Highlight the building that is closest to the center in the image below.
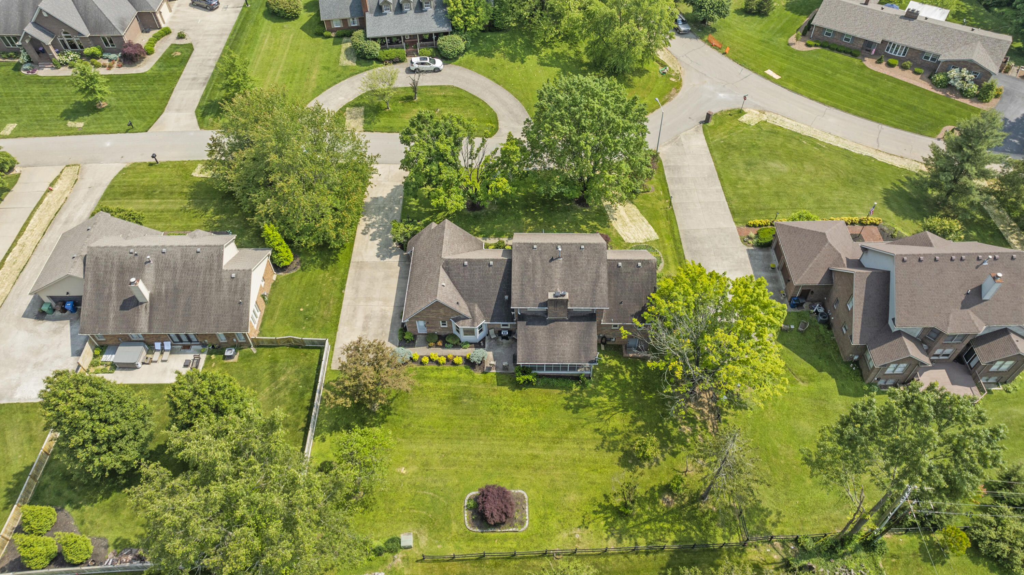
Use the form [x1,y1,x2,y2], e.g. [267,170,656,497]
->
[401,219,657,376]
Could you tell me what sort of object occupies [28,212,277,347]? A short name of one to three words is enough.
house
